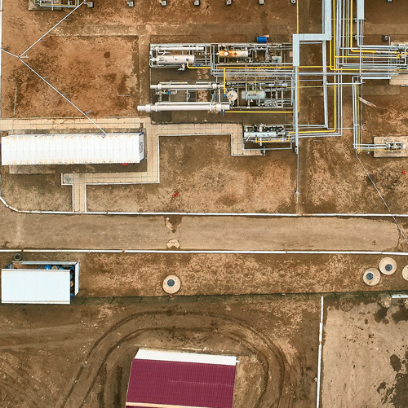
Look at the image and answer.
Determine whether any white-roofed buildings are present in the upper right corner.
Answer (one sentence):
No, no white-roofed building can be made out in the upper right corner.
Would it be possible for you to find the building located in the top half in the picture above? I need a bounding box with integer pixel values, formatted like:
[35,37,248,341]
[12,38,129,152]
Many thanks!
[1,132,146,165]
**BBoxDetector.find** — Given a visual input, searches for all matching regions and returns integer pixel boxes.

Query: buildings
[1,262,80,305]
[125,350,240,408]
[1,132,146,165]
